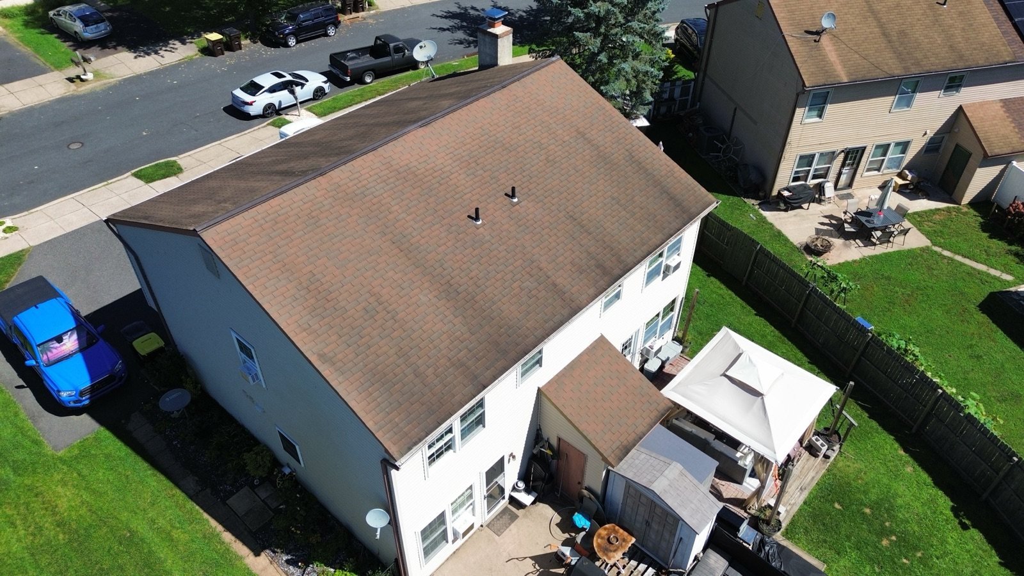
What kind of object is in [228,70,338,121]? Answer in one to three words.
car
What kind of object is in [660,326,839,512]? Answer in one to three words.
gazebo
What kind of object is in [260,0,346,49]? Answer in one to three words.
car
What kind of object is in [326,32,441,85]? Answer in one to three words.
truck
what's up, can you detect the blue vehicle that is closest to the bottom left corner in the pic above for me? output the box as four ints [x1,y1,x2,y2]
[0,273,124,410]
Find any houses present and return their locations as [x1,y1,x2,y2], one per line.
[104,12,721,576]
[694,0,1024,203]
